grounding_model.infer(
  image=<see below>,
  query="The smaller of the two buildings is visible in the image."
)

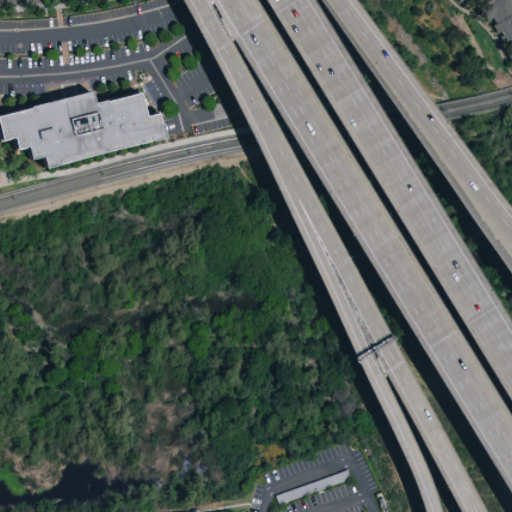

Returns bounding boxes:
[276,470,350,504]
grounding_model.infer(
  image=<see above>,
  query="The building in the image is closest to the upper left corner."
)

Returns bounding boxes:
[0,92,168,170]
